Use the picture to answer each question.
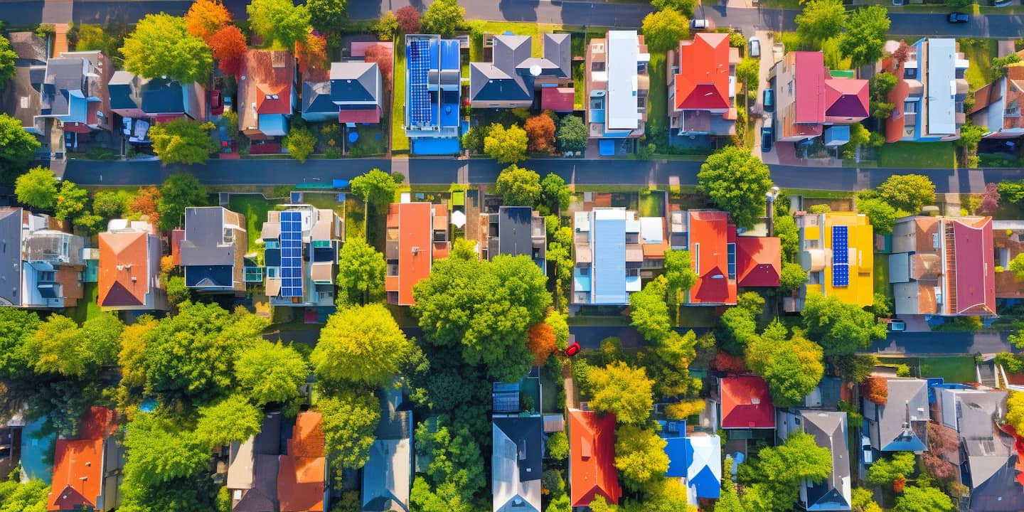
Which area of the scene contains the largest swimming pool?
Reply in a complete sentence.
The largest swimming pool sits in the bottom left section of the image.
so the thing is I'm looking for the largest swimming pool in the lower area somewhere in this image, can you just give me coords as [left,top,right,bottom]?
[23,412,58,490]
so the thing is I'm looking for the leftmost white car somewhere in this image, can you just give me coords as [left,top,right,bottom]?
[690,16,712,28]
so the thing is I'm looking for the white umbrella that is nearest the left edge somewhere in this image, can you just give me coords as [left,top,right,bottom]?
[452,212,466,225]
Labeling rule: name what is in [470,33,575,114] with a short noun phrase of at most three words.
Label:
house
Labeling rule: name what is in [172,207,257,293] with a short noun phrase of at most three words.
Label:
house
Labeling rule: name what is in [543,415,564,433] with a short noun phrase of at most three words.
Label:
shed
